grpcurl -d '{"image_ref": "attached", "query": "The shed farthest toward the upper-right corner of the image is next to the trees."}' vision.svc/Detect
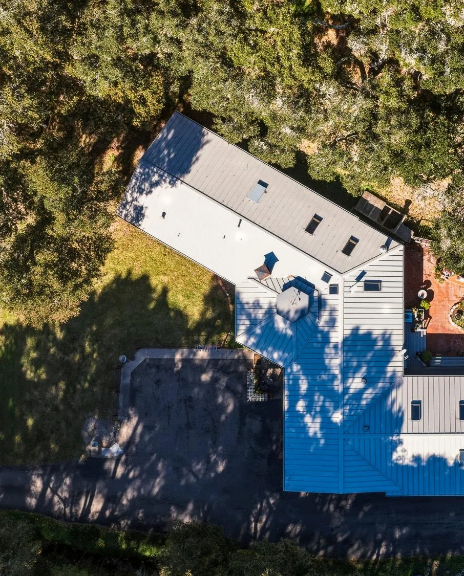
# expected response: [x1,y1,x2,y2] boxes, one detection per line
[354,190,413,242]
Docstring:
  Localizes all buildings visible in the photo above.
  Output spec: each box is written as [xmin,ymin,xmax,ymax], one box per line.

[354,190,413,242]
[118,111,464,497]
